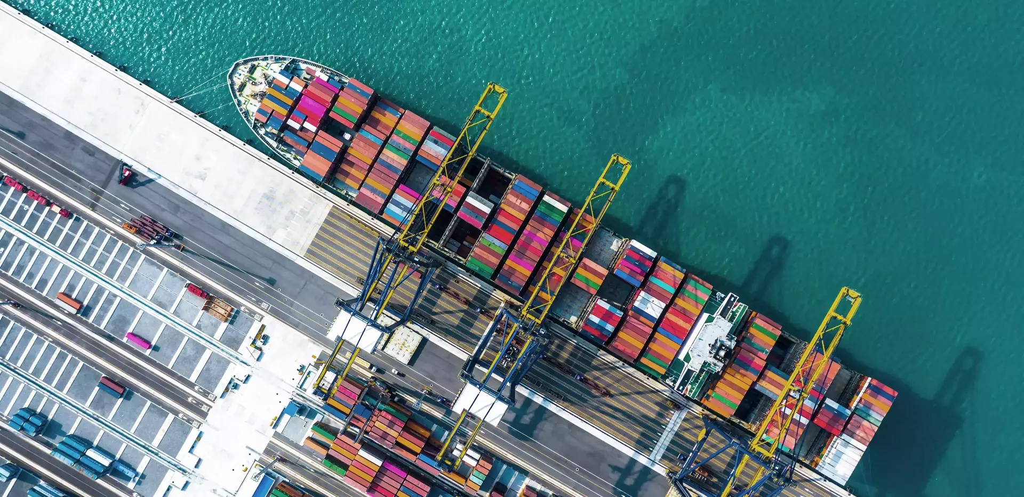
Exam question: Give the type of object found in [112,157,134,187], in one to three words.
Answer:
work vehicle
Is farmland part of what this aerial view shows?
No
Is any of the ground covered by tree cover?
No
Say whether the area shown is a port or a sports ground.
port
